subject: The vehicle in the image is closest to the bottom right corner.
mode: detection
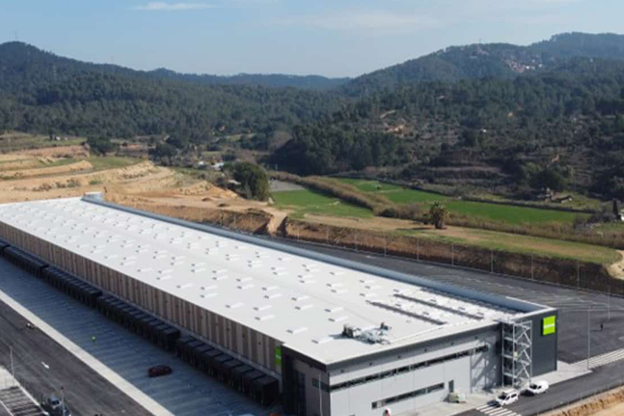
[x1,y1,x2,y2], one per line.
[525,378,551,395]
